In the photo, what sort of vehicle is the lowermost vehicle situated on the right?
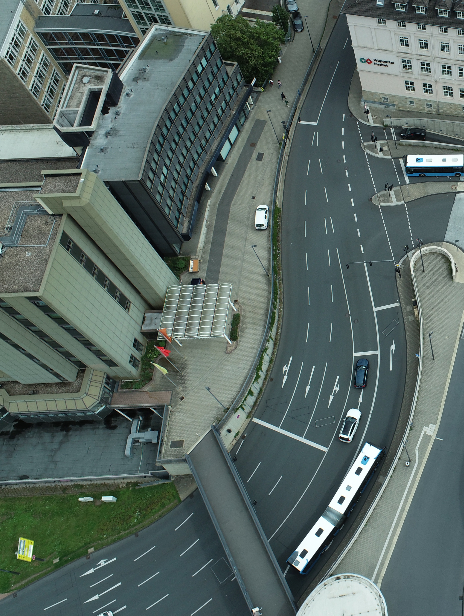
bus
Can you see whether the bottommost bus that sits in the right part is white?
Yes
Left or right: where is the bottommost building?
left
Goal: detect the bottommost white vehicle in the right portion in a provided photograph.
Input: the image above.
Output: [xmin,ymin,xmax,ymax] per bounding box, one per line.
[288,441,383,578]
